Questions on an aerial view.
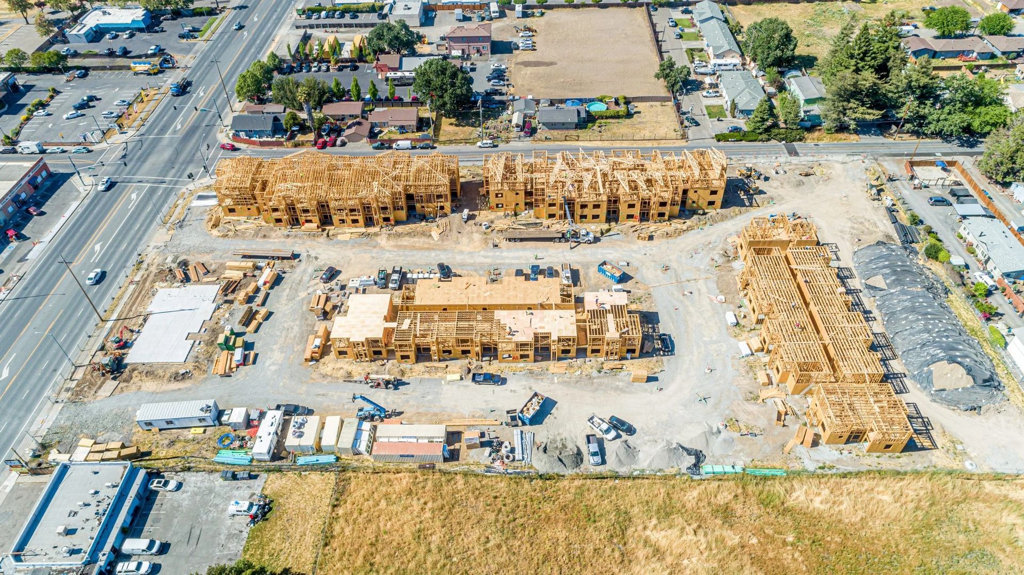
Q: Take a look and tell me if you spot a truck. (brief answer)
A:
Yes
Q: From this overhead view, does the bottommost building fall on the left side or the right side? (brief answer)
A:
left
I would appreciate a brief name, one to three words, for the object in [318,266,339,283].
car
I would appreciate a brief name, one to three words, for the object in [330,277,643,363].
building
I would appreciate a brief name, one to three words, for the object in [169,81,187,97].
vehicle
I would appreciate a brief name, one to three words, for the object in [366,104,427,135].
house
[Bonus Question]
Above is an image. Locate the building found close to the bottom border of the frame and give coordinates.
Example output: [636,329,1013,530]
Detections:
[8,461,156,575]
